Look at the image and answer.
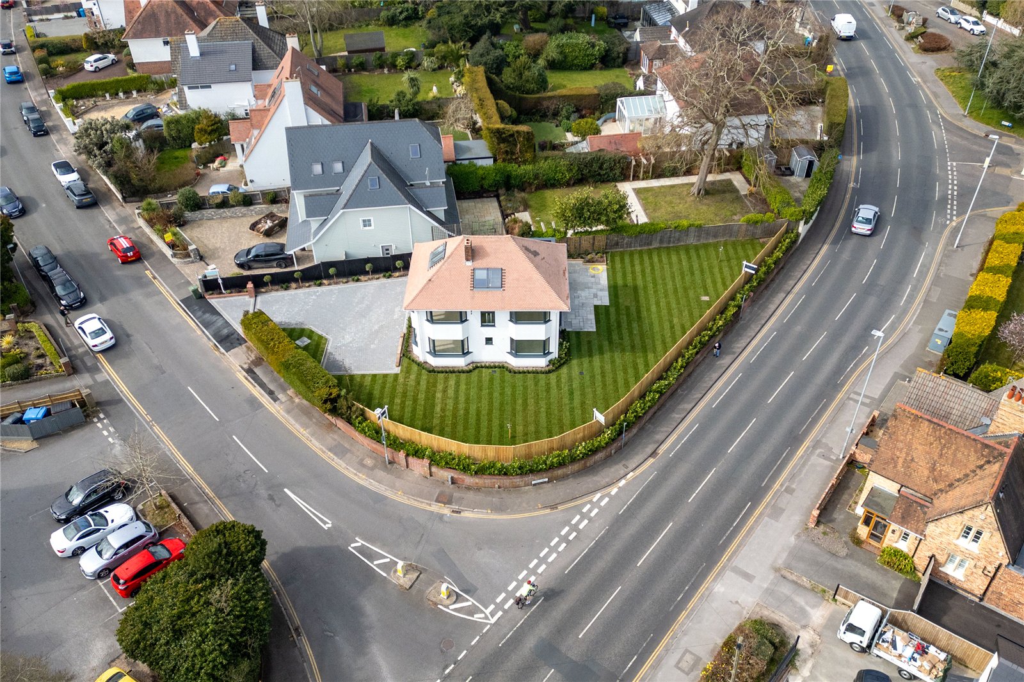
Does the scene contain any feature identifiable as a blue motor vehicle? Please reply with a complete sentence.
Yes, there is a blue motor vehicle in the image.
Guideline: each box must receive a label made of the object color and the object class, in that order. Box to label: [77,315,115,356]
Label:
white car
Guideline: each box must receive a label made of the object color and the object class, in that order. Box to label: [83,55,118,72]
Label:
white car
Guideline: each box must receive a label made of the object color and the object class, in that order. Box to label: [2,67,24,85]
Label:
blue car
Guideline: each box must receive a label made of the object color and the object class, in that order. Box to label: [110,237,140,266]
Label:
red car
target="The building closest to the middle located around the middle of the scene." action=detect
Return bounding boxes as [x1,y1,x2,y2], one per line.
[403,229,572,366]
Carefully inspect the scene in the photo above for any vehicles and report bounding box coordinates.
[233,242,294,268]
[851,206,880,238]
[50,159,81,187]
[199,181,247,202]
[48,468,136,529]
[47,266,88,309]
[831,16,857,44]
[931,7,958,24]
[79,520,161,583]
[27,239,63,279]
[0,0,13,12]
[110,237,140,266]
[954,14,985,35]
[26,113,51,138]
[77,315,115,356]
[2,67,24,85]
[83,55,118,72]
[64,181,96,209]
[0,39,16,56]
[847,602,947,682]
[47,503,139,566]
[0,183,27,218]
[122,101,162,122]
[17,96,39,123]
[106,539,192,602]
